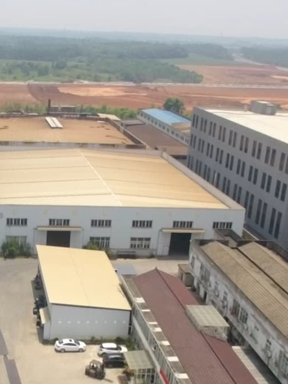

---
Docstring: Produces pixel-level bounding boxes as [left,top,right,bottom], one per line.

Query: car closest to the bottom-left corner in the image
[53,339,86,353]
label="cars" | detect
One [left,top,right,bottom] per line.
[53,339,86,353]
[99,353,129,366]
[94,341,125,356]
